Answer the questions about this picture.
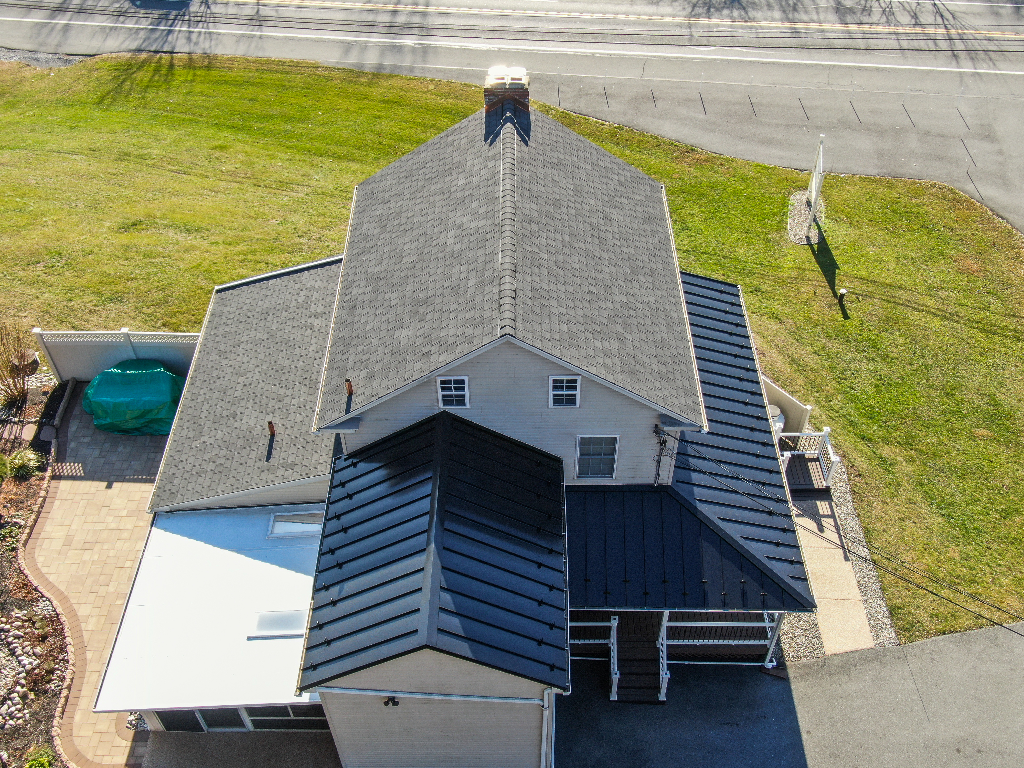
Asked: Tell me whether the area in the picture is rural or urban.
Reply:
urban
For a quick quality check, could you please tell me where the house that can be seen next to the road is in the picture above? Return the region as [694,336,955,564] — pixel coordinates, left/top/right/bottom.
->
[87,63,840,768]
